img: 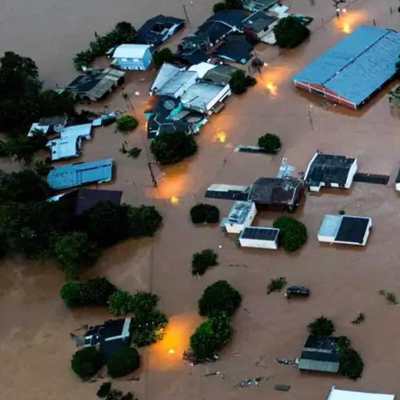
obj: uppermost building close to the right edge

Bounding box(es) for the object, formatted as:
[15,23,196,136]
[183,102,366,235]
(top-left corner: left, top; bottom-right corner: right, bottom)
[292,26,400,113]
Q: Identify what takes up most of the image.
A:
water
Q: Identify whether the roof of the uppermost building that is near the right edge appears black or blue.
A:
blue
